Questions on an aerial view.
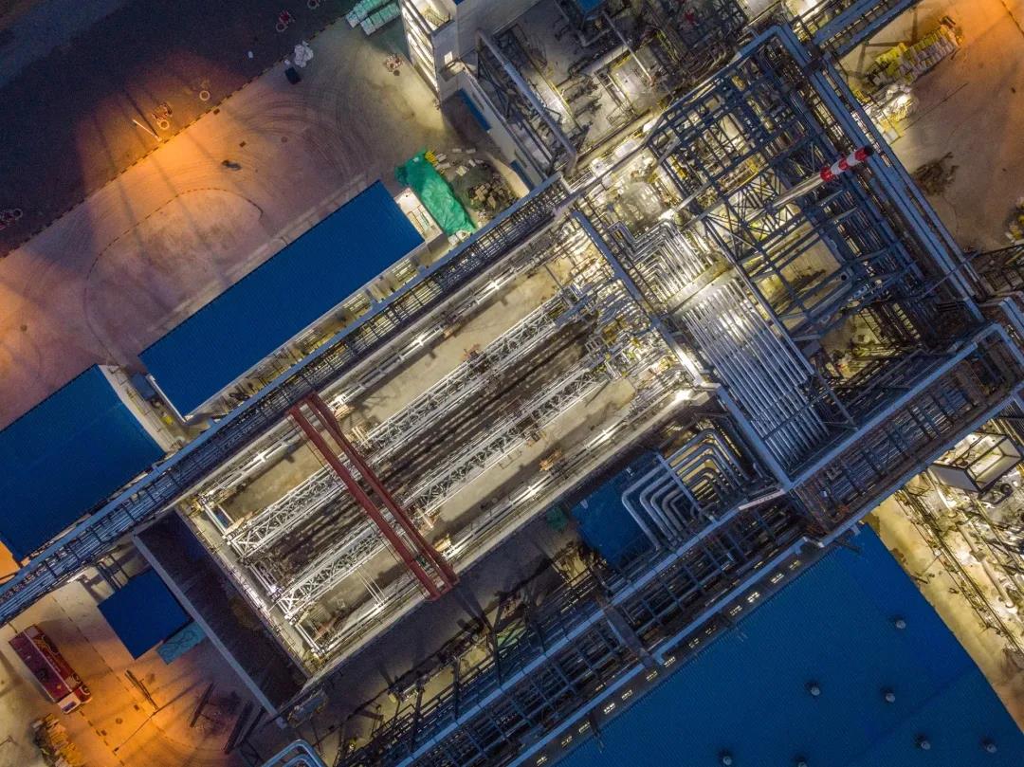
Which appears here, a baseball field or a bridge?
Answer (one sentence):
The image shows a bridge.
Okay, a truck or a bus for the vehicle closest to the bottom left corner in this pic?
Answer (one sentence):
From above, the vehicle closest to the bottom left corner can be identified as a bus.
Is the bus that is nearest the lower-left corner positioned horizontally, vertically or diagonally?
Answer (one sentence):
Seen from above, the bus that is nearest the lower-left corner lies diagonally.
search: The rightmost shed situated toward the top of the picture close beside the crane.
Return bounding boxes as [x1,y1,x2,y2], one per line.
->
[139,181,426,418]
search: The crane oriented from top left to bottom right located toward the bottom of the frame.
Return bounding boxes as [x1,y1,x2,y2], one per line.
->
[290,391,459,600]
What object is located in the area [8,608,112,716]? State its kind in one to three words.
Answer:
bus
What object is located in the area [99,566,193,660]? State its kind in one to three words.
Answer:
shed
